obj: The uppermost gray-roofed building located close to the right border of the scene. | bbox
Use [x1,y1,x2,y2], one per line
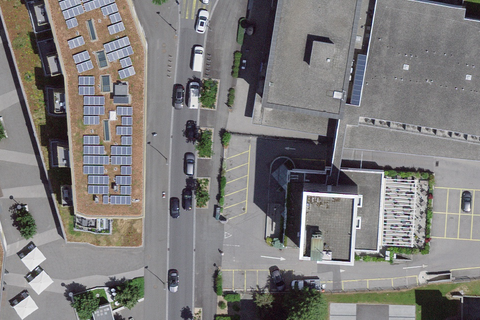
[330,0,480,185]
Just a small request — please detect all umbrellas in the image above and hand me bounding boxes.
[28,270,54,294]
[13,296,38,320]
[21,246,46,272]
